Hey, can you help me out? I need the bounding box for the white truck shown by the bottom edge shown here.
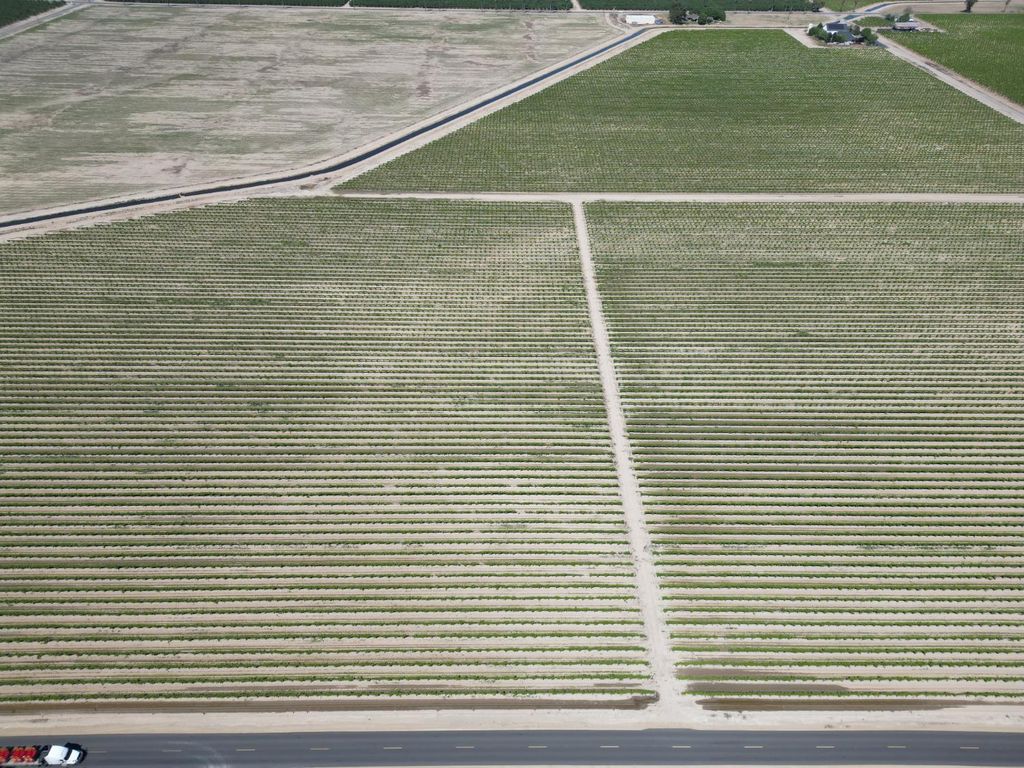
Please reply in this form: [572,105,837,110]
[33,745,87,766]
